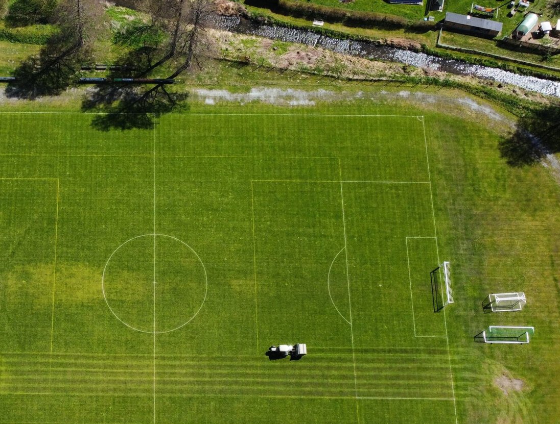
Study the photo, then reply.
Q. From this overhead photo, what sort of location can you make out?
sports ground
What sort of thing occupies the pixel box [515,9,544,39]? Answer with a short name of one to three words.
greenhouse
